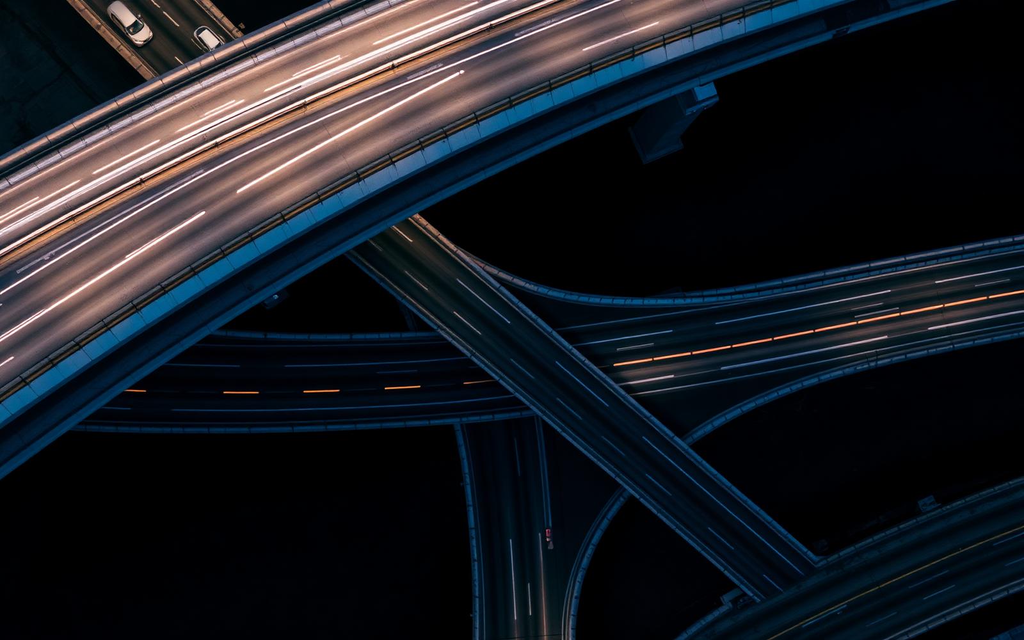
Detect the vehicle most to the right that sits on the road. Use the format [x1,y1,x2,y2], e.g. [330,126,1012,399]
[194,26,226,52]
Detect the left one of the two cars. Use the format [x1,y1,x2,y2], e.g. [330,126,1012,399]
[108,1,153,46]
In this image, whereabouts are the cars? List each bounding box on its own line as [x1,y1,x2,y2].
[108,1,153,46]
[194,26,226,52]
